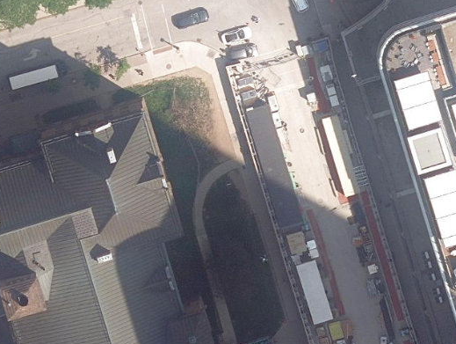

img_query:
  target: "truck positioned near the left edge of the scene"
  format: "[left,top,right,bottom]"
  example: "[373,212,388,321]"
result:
[8,65,62,93]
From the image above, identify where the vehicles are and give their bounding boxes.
[173,8,209,28]
[292,0,309,12]
[8,65,62,93]
[225,44,258,61]
[219,27,252,45]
